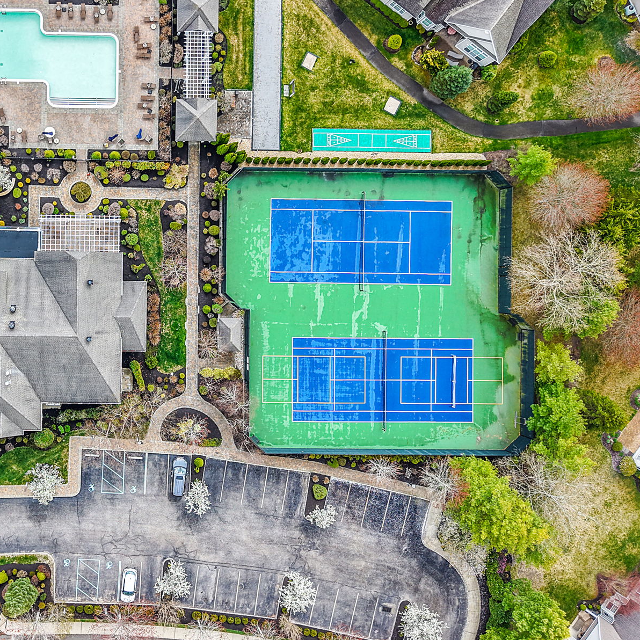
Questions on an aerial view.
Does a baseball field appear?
No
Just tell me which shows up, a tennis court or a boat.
tennis court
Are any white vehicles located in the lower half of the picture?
Yes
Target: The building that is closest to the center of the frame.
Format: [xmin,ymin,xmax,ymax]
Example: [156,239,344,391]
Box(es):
[216,317,242,352]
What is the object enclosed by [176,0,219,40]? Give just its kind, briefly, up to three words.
building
